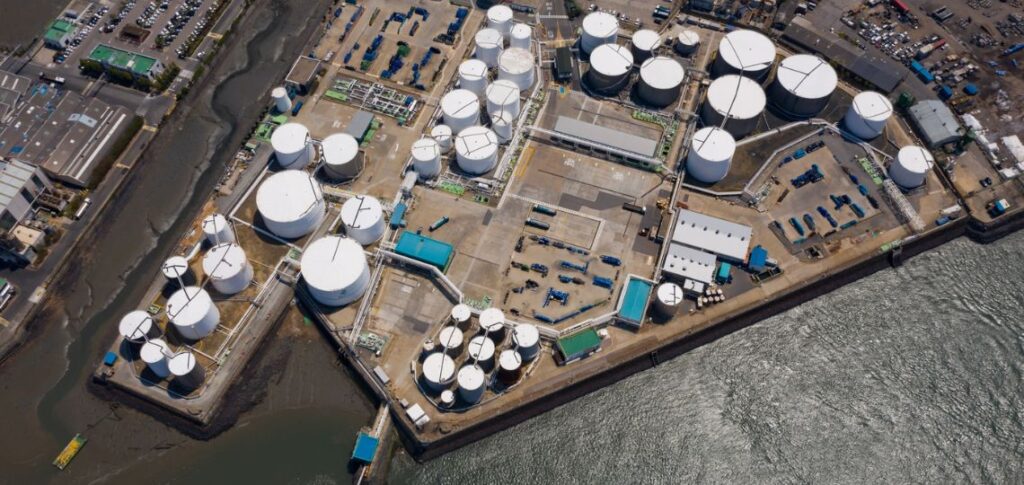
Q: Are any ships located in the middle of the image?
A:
No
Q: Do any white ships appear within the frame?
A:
No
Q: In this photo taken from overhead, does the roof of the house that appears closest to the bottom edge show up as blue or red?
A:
blue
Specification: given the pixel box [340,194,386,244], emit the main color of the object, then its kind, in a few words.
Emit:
white storage tank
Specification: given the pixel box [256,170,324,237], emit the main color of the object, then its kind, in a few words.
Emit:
white storage tank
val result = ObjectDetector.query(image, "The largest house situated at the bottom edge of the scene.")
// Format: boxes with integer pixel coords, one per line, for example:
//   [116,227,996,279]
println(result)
[352,432,380,465]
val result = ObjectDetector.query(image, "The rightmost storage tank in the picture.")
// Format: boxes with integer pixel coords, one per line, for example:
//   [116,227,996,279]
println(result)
[890,145,934,188]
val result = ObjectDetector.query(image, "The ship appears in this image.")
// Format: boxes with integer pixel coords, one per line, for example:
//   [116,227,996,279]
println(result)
[55,434,87,468]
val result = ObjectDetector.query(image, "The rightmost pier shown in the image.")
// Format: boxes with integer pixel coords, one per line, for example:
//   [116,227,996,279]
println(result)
[351,400,388,485]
